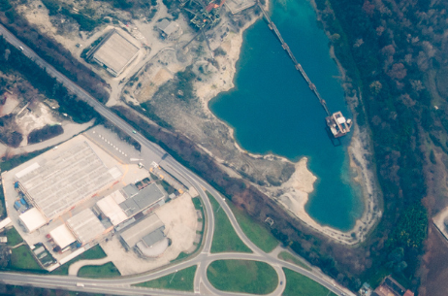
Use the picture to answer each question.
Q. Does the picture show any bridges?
No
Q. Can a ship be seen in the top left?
No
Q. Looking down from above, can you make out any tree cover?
Yes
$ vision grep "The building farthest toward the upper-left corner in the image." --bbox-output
[88,28,142,78]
